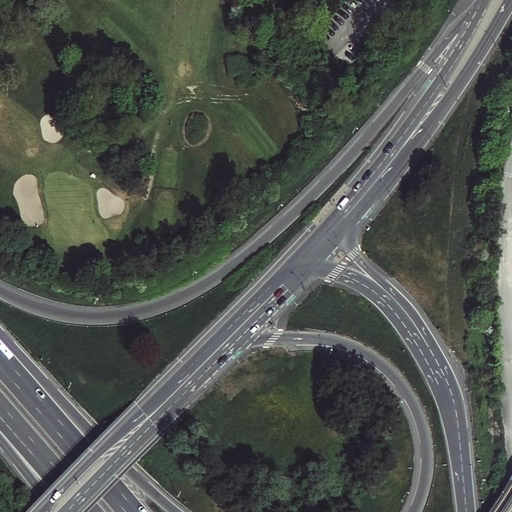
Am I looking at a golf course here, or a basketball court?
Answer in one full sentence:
This aerial view contains a golf course.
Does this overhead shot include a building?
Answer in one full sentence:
No, the frame has no building in it.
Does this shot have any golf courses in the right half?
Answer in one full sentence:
No, no golf course appears in the right half.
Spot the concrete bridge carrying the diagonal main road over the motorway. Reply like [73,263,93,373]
[25,376,160,512]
